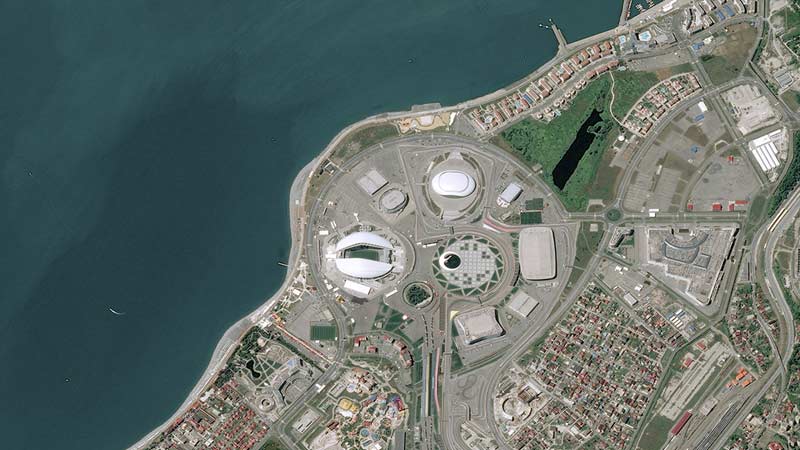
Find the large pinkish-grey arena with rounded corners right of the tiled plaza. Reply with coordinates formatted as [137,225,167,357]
[520,227,555,280]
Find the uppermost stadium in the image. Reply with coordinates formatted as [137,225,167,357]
[428,152,480,217]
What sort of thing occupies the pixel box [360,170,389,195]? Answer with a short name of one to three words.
building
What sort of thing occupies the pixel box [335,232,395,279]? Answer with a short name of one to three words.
stadium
